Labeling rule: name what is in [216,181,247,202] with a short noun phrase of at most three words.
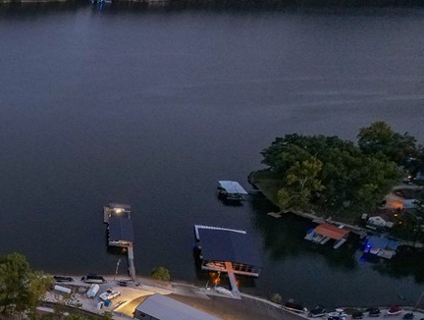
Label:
pier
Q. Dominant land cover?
water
